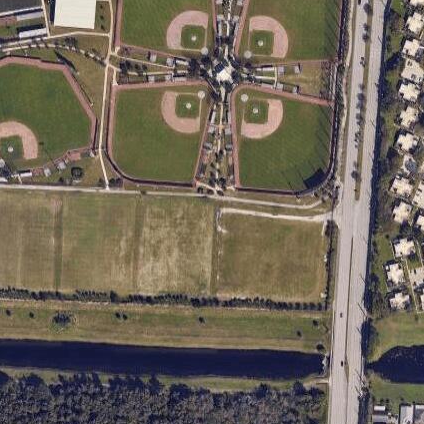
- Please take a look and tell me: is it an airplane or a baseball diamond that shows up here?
baseball diamond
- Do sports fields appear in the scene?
Yes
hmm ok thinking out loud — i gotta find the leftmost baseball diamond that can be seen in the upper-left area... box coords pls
[0,54,101,178]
